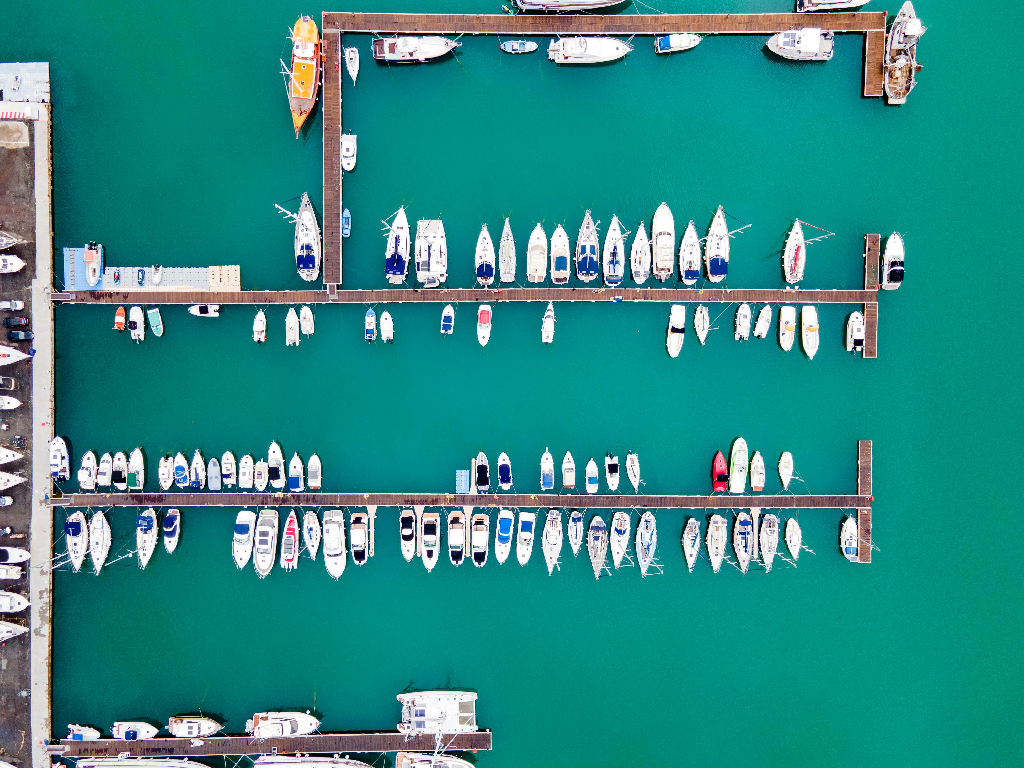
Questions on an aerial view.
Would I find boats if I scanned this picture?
Yes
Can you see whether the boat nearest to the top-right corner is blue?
No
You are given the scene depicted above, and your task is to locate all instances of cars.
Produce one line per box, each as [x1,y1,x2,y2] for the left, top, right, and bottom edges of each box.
[7,330,36,341]
[0,299,26,311]
[0,496,16,507]
[4,316,30,328]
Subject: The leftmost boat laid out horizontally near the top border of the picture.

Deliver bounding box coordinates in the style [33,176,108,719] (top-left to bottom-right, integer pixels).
[373,33,461,64]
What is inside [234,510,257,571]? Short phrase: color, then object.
white boat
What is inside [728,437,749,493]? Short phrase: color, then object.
white boat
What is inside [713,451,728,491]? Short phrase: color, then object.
red boat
